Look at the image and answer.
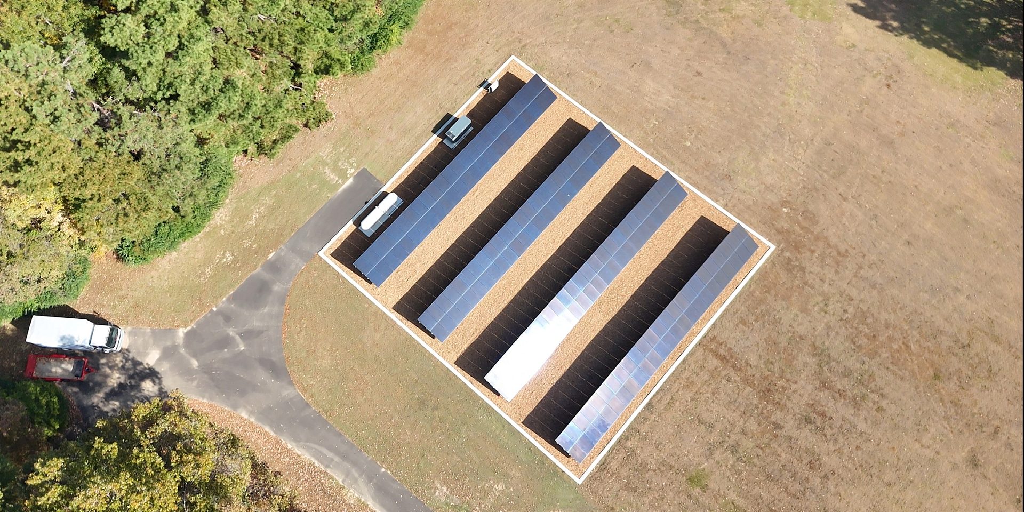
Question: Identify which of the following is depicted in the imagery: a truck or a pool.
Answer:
truck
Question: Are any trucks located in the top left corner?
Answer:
No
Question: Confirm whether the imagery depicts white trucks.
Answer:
Yes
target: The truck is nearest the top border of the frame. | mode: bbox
[25,315,127,355]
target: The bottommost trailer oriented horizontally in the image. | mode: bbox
[25,353,100,383]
